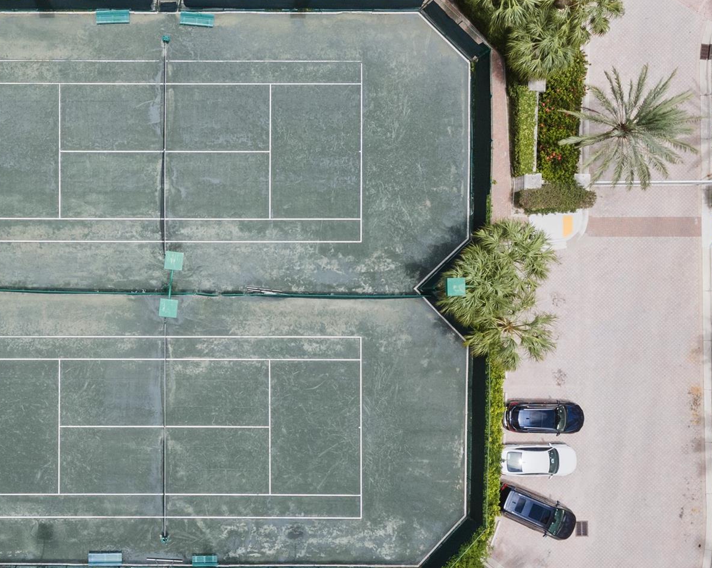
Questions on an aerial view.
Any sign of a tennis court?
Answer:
Yes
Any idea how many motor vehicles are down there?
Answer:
3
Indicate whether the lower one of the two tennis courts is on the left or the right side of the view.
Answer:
left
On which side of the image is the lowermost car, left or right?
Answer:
right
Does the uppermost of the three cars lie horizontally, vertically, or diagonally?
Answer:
horizontally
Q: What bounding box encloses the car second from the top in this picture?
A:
[497,442,576,480]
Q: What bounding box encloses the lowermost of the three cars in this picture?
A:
[494,482,578,539]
